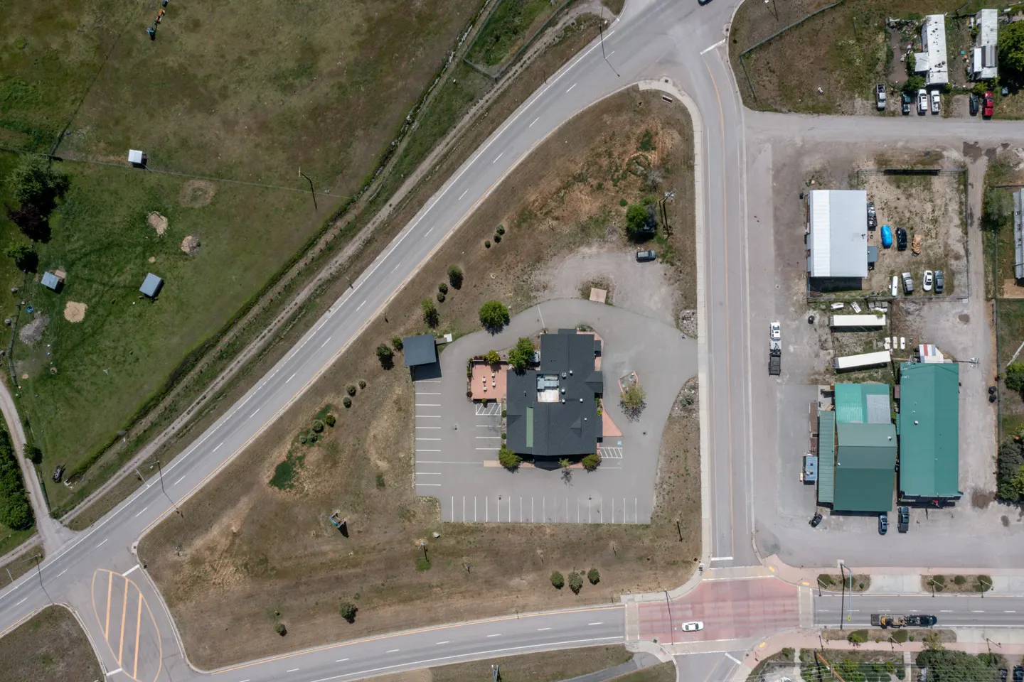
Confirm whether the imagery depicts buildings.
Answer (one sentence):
Yes, there's a building here.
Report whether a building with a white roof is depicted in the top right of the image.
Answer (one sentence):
Yes, there is a building with a white roof in the top right of the image.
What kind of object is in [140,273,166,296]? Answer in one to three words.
shed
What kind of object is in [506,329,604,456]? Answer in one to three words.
building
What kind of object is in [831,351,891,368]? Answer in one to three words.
trailer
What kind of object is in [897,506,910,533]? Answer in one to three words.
vehicle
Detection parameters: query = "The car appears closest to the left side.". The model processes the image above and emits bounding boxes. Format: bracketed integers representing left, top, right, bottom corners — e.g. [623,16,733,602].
[52,465,66,483]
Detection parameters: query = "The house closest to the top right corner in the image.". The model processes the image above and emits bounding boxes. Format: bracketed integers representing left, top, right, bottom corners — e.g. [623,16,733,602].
[968,9,998,82]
